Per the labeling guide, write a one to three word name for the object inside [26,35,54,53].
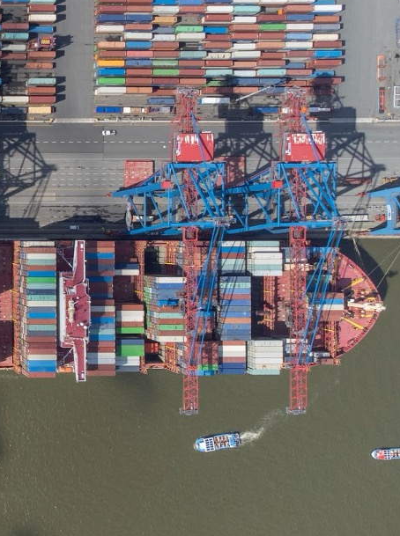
work vehicle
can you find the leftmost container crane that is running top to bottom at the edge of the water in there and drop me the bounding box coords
[108,84,235,413]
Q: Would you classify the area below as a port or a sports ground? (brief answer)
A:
port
